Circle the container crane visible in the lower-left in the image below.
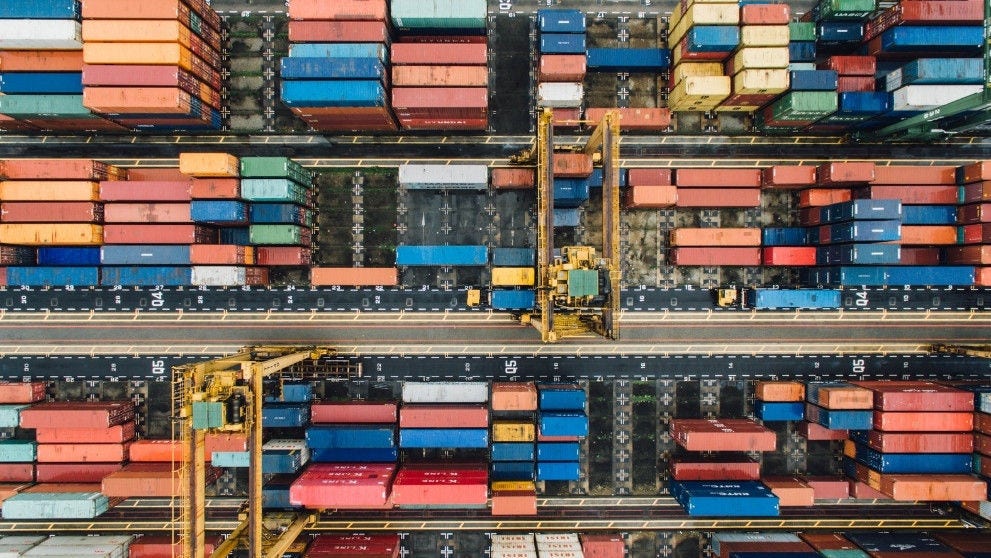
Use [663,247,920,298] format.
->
[176,346,340,558]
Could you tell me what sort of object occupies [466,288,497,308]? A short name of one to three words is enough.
vehicle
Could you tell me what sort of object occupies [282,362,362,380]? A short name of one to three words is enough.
trailer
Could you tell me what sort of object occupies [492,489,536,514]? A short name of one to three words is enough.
shipping container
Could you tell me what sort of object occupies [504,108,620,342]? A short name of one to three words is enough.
container crane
